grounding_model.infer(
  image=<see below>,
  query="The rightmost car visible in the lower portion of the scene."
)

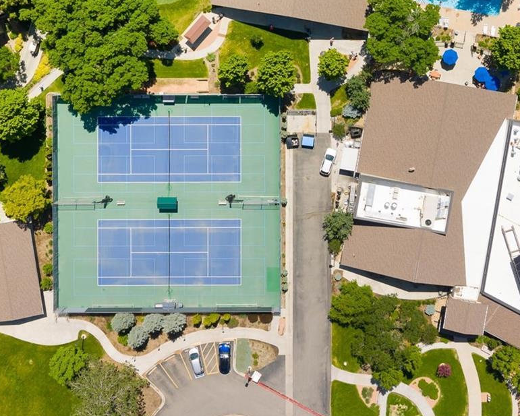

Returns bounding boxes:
[218,342,232,374]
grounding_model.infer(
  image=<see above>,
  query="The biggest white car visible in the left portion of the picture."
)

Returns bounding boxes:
[188,346,205,378]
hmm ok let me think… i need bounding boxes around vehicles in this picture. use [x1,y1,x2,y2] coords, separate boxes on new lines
[319,147,336,178]
[28,39,40,54]
[188,346,205,378]
[218,342,232,374]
